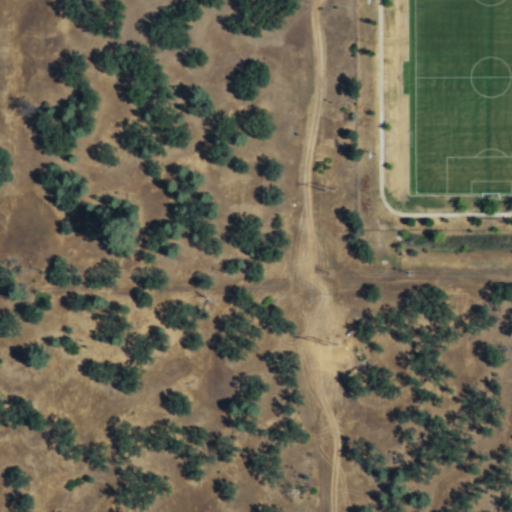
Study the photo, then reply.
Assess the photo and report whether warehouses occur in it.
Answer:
No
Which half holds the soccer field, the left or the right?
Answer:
right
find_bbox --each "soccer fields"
[402,0,512,196]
